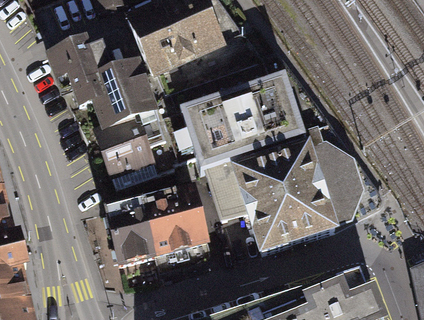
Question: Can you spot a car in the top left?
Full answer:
Yes, there is a car in the top left.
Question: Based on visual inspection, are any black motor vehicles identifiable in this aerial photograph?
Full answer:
Yes, a black motor vehicle is visible in the scene.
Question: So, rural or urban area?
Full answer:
The area shown here is urban.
